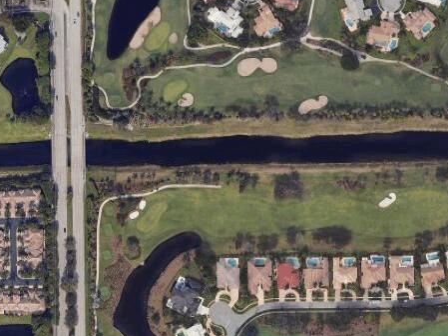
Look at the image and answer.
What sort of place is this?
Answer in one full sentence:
The picture captures a golf course.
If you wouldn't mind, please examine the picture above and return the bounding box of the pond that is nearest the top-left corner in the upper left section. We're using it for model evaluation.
[0,58,38,116]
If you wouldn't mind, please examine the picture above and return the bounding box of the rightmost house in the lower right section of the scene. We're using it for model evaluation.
[420,266,448,292]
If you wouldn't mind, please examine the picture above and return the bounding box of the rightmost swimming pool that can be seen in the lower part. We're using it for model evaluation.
[426,251,442,264]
